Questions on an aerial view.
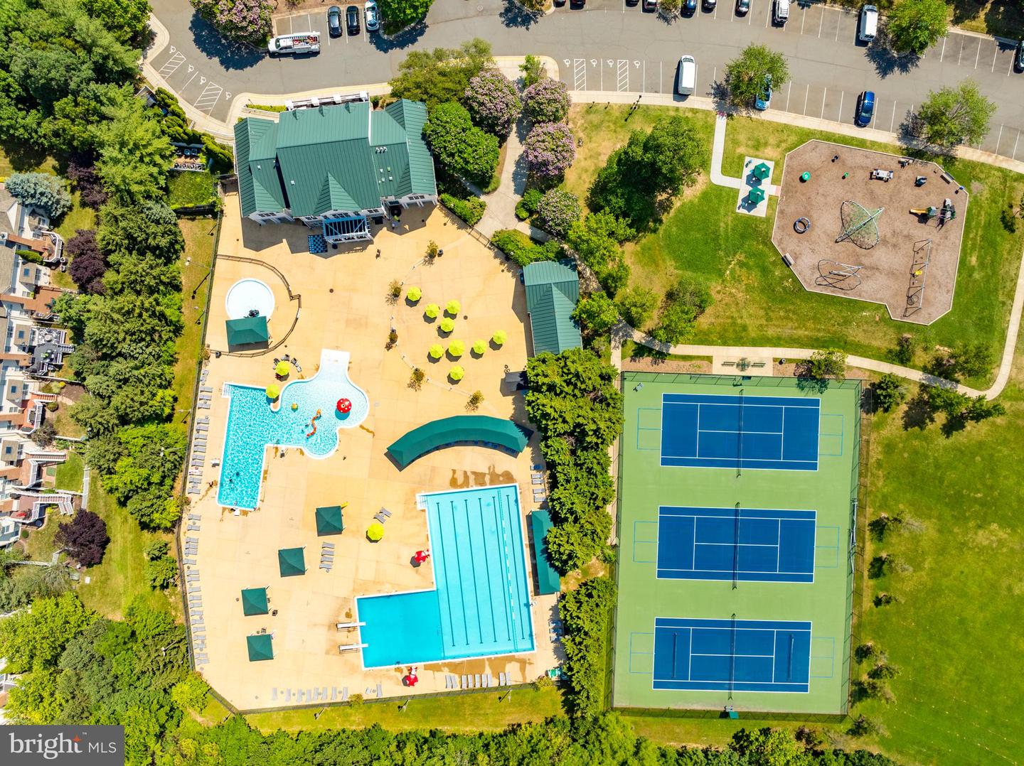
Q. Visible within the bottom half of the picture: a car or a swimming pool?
swimming pool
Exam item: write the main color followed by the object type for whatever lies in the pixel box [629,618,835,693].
blue tennis court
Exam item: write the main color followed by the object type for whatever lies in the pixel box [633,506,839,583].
blue tennis court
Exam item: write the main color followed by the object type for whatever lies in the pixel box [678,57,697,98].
white vehicle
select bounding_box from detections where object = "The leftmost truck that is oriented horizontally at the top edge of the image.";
[273,32,319,56]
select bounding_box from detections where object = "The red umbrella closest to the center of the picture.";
[414,551,427,564]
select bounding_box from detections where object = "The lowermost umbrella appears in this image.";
[404,673,417,687]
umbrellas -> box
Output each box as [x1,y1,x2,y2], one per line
[446,300,460,314]
[493,330,506,344]
[748,186,765,204]
[450,365,464,379]
[429,343,443,357]
[404,673,417,687]
[407,286,421,300]
[266,384,281,398]
[368,523,384,539]
[473,340,487,354]
[440,318,454,332]
[414,551,427,564]
[390,206,400,216]
[448,339,464,355]
[754,162,770,180]
[424,303,438,317]
[275,362,289,375]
